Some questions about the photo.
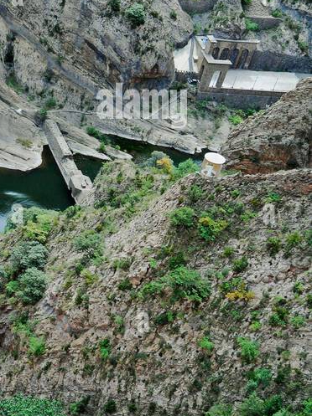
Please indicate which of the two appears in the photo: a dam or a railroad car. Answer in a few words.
dam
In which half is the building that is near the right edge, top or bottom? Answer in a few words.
top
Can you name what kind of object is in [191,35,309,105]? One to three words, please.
building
